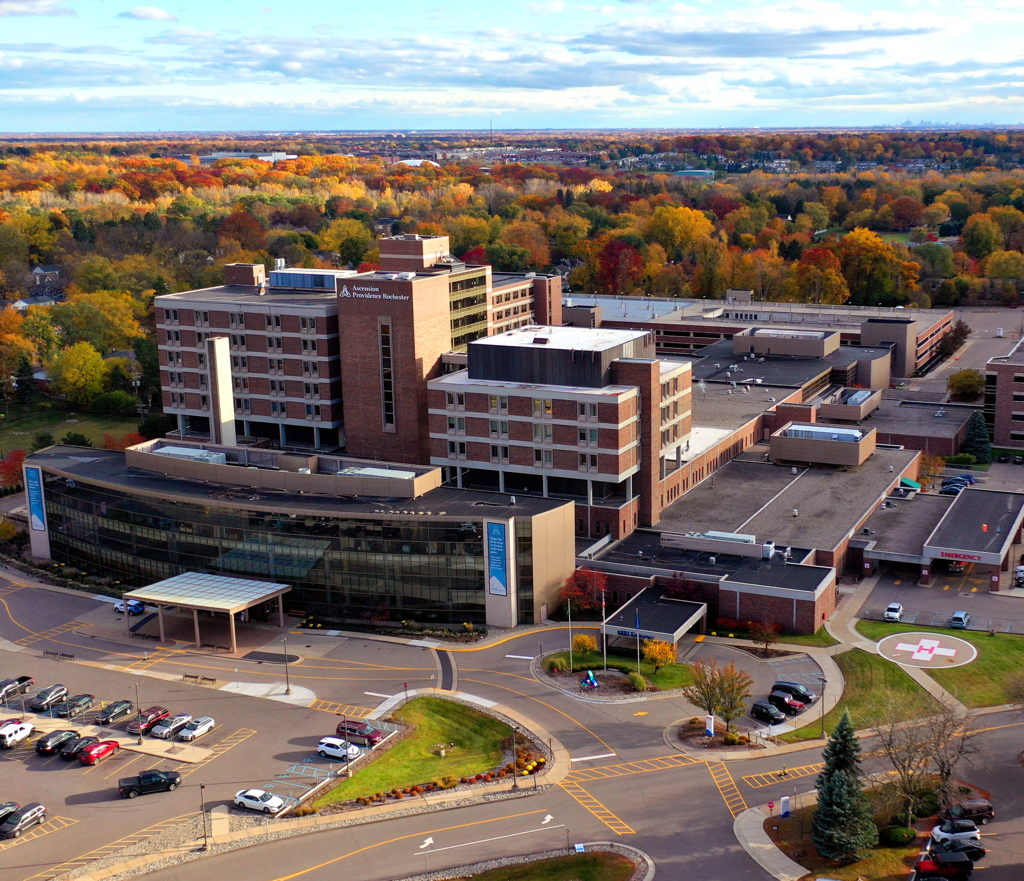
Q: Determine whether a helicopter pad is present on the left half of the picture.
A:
No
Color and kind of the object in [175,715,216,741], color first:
white car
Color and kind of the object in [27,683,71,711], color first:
gray car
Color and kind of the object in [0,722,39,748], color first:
white car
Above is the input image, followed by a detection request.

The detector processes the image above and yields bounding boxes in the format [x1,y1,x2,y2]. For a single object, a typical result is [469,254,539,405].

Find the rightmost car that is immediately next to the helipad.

[950,609,971,627]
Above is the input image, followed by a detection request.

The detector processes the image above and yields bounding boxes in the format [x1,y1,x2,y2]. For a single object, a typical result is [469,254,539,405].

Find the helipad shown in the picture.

[875,630,980,669]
